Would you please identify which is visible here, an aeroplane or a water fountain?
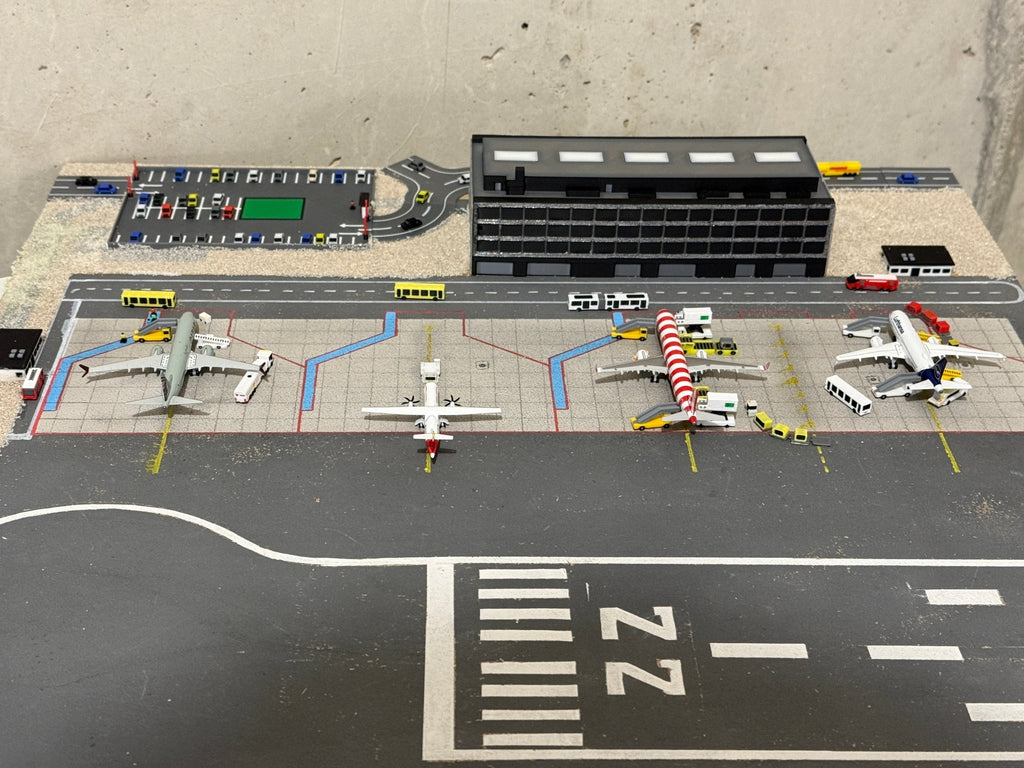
aeroplane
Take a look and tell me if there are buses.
Yes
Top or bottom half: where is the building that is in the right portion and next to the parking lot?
top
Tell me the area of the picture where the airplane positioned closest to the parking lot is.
left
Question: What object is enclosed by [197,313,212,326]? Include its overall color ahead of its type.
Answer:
white vehicle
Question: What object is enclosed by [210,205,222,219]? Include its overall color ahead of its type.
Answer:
gray vehicle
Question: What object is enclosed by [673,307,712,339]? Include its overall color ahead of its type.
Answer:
white truck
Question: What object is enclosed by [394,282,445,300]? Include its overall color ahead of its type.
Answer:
yellow vehicle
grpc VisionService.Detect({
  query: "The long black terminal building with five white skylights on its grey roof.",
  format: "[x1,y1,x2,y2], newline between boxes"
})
[472,135,836,277]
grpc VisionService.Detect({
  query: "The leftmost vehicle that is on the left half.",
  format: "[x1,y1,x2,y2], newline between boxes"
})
[22,368,44,398]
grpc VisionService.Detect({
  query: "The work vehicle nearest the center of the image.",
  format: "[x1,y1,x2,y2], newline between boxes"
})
[421,361,440,384]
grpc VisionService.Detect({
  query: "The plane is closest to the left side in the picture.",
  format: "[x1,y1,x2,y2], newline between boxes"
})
[77,313,266,408]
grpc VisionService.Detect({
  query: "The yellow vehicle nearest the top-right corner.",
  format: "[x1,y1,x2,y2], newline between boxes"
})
[820,162,862,178]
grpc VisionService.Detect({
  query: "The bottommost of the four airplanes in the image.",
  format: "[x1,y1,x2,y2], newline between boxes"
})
[362,380,501,458]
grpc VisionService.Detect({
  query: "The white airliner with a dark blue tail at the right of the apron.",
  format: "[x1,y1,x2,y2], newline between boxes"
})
[836,310,1005,395]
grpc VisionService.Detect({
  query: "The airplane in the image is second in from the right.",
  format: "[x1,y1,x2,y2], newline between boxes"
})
[593,309,767,424]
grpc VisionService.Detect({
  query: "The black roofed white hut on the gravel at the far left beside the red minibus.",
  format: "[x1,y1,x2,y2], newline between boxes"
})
[0,327,42,381]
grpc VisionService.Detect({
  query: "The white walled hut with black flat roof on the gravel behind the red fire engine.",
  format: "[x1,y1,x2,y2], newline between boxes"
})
[881,246,956,276]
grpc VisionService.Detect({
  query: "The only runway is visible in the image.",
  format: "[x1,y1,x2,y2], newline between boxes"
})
[0,299,1024,768]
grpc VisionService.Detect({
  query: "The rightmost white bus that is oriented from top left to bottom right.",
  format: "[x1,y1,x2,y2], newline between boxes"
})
[824,377,876,417]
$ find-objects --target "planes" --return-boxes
[362,380,501,458]
[593,309,767,424]
[77,313,266,408]
[836,310,1005,395]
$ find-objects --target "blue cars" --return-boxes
[130,231,142,243]
[174,168,186,181]
[335,170,344,183]
[139,193,150,206]
[95,184,116,194]
[897,175,918,185]
[251,232,262,244]
[302,233,312,244]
